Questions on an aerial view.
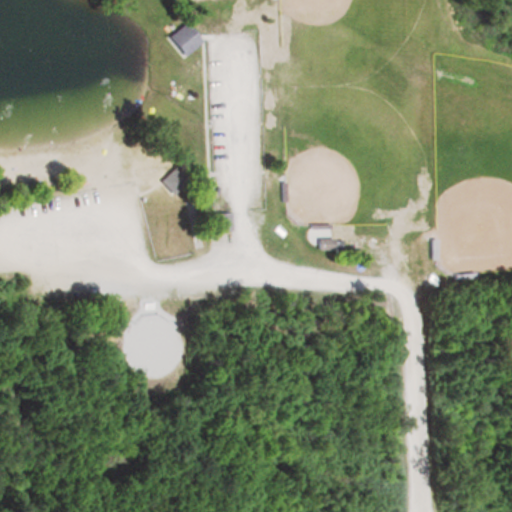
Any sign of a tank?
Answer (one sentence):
Yes, the picture does show a tank.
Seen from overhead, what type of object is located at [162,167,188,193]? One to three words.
building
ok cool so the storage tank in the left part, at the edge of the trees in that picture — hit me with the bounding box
[124,317,184,377]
